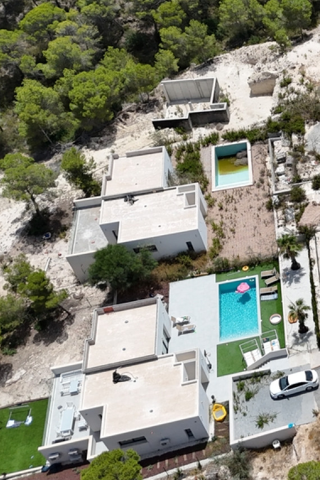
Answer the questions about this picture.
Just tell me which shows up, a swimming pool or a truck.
swimming pool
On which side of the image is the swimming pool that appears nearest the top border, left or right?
right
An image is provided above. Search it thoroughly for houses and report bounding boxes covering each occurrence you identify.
[37,295,213,480]
[63,146,206,273]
